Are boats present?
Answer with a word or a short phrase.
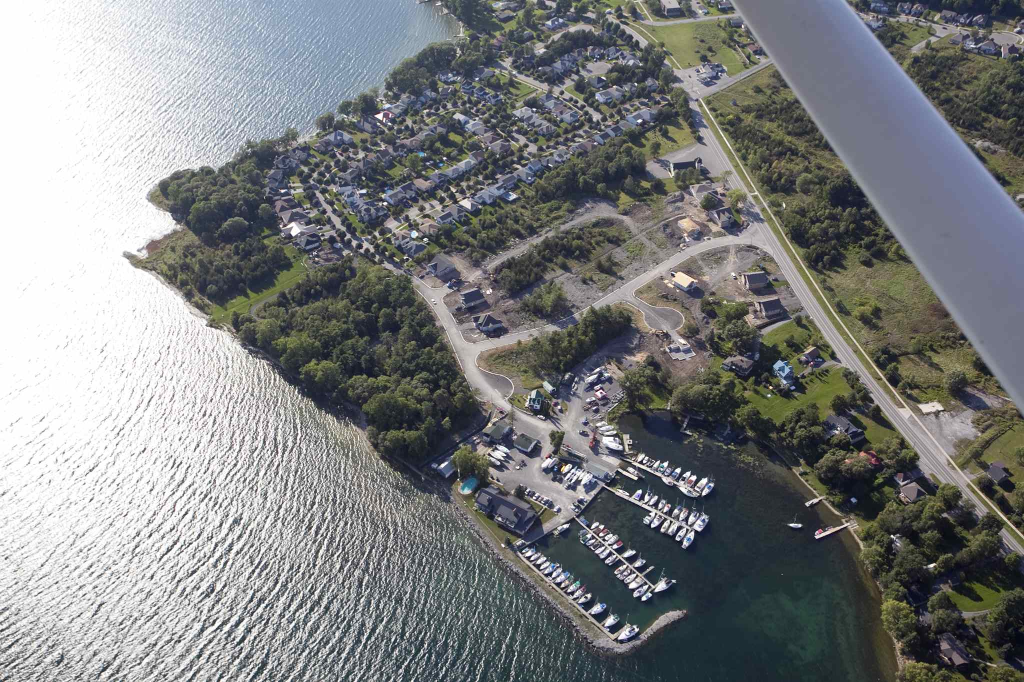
Yes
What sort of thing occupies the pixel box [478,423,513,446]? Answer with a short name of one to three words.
building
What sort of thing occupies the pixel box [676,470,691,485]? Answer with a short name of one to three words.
boat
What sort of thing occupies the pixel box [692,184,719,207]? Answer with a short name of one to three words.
house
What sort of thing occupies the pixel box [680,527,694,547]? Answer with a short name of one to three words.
boat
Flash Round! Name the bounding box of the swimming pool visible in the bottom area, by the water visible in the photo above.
[455,476,482,497]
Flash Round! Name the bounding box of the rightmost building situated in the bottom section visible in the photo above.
[981,462,1012,489]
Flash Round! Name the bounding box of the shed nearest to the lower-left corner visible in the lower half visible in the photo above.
[430,458,463,485]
